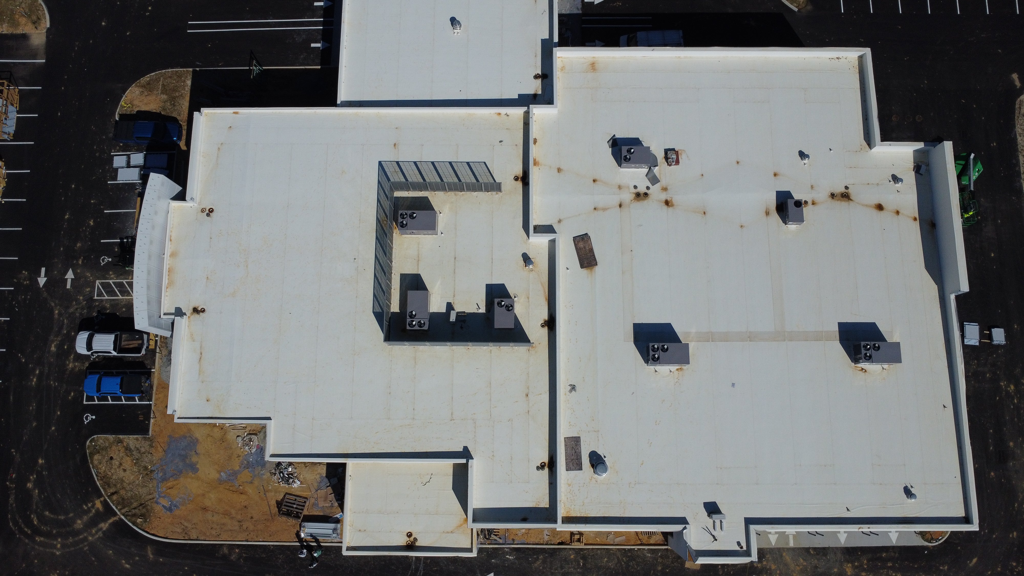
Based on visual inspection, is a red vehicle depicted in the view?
No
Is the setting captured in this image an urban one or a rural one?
urban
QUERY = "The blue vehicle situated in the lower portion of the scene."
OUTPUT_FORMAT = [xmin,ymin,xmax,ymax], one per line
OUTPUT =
[81,371,153,400]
